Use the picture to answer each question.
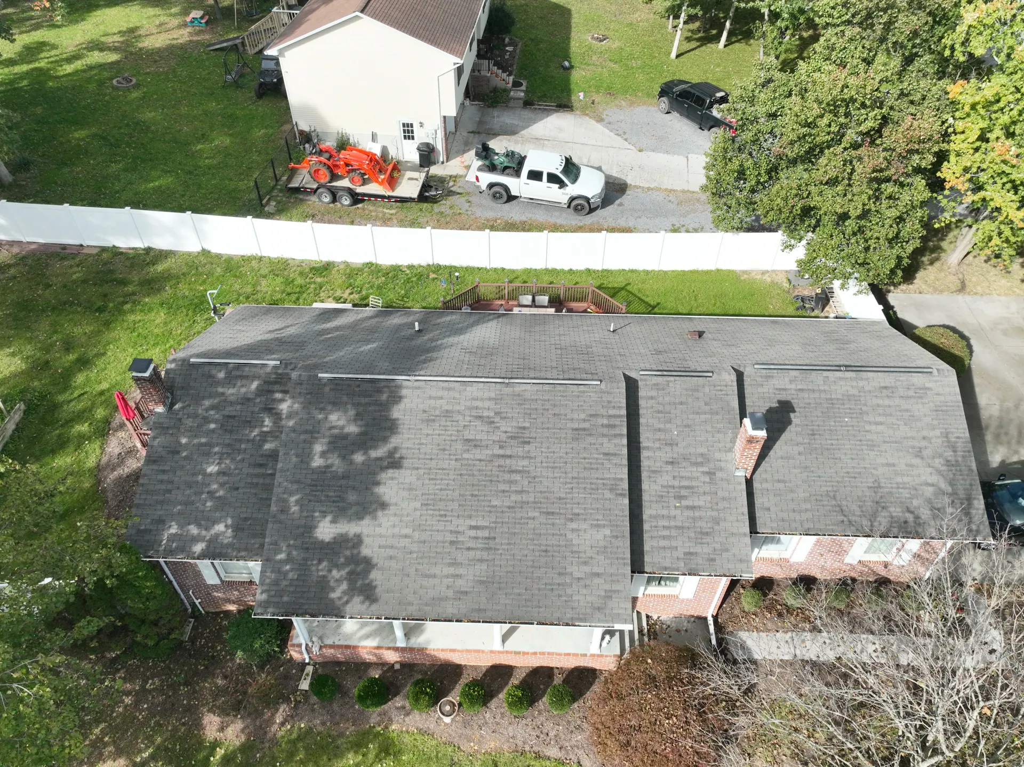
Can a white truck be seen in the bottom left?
No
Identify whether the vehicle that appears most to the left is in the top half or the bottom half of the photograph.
top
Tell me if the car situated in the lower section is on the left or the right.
right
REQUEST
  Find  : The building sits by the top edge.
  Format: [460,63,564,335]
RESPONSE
[266,0,520,163]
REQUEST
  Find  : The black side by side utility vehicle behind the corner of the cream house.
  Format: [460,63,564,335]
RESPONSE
[256,50,287,96]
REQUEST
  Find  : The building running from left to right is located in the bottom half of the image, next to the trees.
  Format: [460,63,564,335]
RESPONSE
[123,305,994,672]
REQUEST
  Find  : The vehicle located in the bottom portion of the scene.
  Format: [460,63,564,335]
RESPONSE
[981,473,1024,552]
